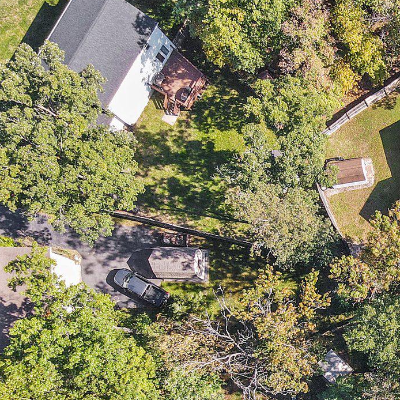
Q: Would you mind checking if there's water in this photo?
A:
No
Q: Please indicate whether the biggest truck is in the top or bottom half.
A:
bottom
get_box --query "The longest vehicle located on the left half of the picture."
[114,266,169,309]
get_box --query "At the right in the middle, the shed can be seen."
[325,157,370,193]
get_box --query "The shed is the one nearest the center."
[149,249,207,282]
